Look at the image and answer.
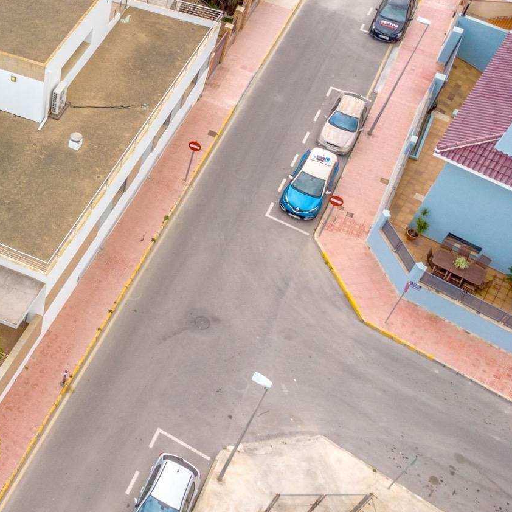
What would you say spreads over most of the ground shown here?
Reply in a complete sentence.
Most of the picture is covered by paved ground.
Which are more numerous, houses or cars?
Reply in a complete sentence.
In this view, cars are more numerous than houses.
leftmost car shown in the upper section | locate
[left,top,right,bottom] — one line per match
[277,153,335,225]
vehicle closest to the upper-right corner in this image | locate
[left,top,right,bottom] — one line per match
[369,0,413,44]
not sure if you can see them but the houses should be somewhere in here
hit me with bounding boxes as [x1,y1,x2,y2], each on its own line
[408,43,512,277]
[0,0,224,401]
